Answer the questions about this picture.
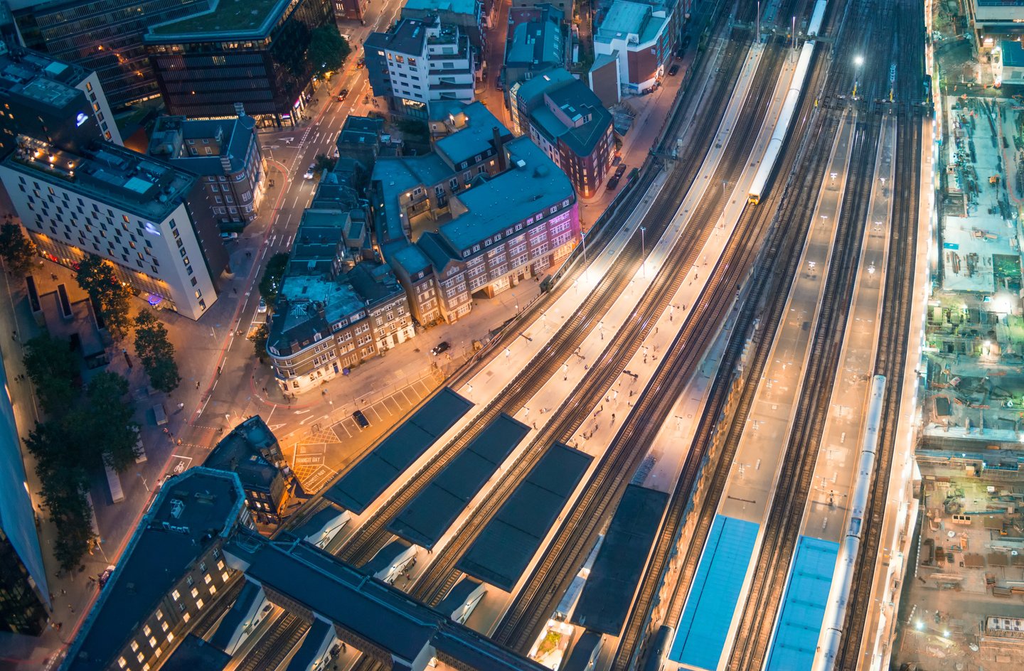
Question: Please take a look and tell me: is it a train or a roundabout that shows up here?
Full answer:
The image shows a train.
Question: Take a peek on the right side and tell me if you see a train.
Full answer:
Yes, a train appears on the right side.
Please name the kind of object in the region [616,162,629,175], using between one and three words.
vehicle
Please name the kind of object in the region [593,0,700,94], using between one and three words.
building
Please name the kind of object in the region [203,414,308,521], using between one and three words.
building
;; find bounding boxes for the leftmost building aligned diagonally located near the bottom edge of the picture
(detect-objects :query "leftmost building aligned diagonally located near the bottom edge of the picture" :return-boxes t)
[55,465,257,671]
